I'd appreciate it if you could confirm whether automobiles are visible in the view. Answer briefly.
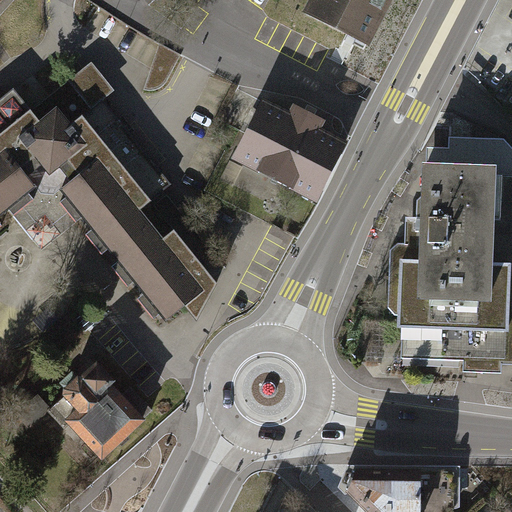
Yes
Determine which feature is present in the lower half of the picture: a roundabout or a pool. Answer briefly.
roundabout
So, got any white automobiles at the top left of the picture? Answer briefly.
Yes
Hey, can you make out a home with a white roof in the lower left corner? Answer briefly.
No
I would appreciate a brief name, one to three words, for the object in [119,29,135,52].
car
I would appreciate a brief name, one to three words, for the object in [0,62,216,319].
building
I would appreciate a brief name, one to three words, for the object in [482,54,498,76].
car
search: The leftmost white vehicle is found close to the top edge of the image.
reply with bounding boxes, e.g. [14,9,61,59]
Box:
[99,16,116,38]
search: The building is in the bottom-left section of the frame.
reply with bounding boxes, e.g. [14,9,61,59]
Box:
[50,362,152,460]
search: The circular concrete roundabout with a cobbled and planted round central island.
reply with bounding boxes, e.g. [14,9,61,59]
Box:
[204,322,336,456]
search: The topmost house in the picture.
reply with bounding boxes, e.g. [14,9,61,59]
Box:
[302,0,392,50]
